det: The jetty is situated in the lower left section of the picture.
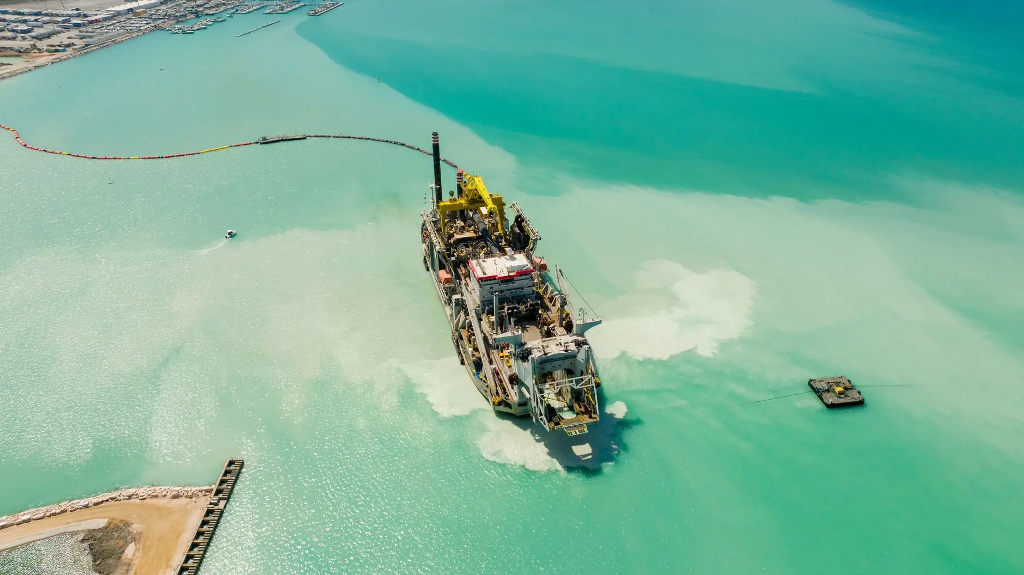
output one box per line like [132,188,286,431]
[181,458,249,575]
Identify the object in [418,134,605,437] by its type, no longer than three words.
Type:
ship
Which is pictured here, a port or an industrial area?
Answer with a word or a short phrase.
port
